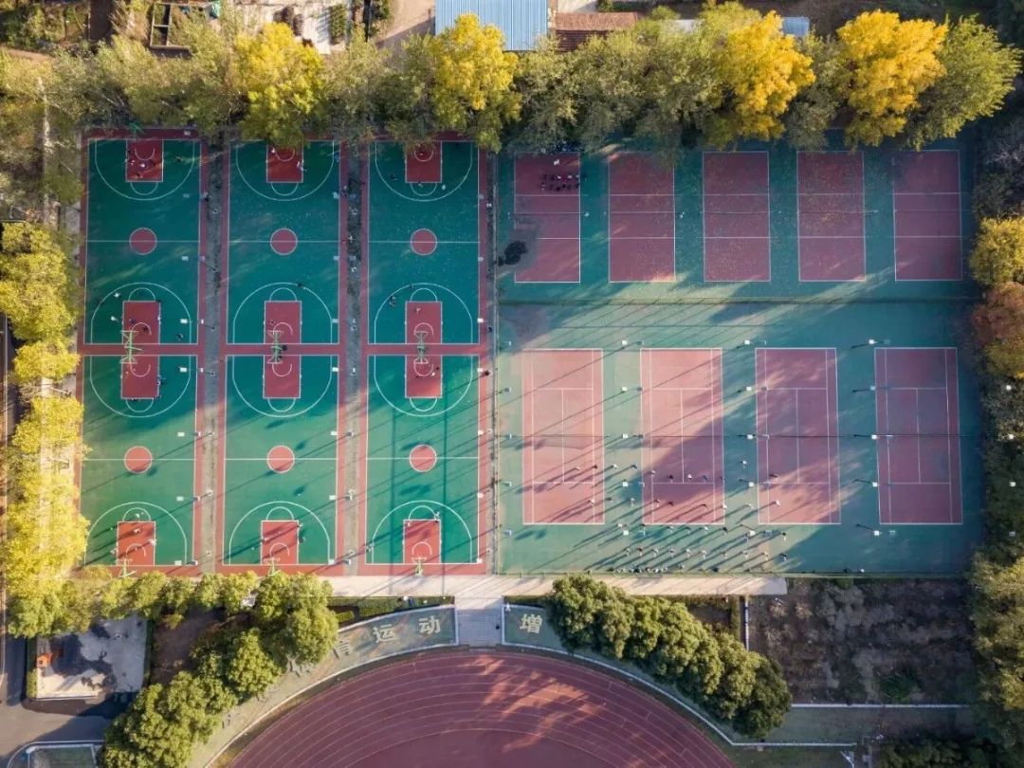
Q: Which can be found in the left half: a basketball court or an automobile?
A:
basketball court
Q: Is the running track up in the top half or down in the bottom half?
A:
bottom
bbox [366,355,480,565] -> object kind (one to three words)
basketball court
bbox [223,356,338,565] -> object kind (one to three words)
basketball court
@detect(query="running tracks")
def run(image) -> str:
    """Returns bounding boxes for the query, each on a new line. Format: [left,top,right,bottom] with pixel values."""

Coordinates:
[231,654,732,768]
